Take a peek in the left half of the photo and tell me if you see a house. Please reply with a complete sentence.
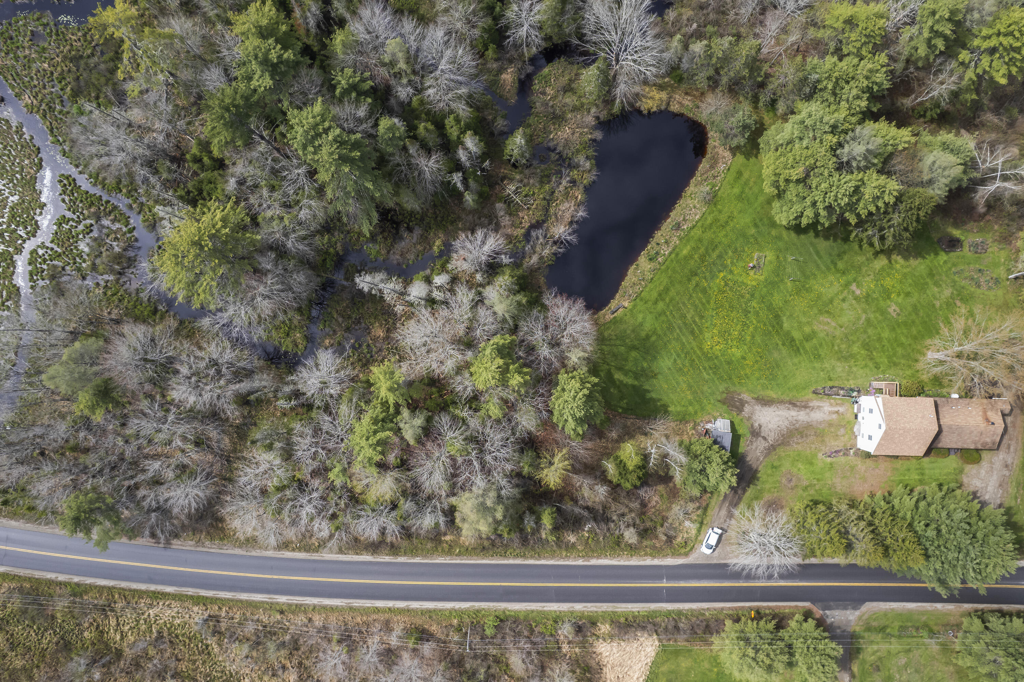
No, there is no house in the left half of the photo.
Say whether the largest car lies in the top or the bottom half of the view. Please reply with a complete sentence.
The largest car is in the bottom half of the image.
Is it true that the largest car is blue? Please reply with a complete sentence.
No, the largest car is actually white.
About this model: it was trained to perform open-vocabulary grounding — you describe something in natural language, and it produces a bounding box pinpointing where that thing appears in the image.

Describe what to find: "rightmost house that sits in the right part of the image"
[858,381,1014,456]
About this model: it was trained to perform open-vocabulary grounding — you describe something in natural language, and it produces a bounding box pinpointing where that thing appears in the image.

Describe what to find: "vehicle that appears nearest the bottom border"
[704,529,725,556]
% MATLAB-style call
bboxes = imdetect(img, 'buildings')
[707,429,733,454]
[858,381,1014,456]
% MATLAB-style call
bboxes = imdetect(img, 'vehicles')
[851,395,860,404]
[704,529,725,556]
